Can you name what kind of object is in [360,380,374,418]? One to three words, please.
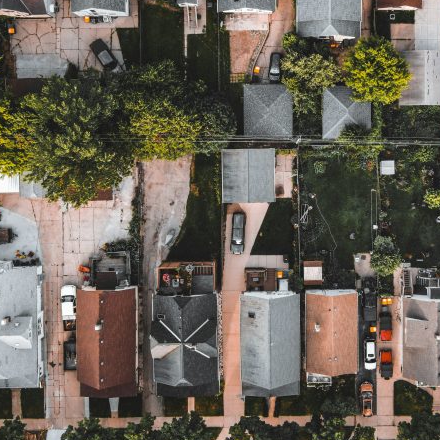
vehicle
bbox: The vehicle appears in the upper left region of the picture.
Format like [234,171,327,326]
[90,38,117,71]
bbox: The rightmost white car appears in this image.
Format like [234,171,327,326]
[363,338,378,371]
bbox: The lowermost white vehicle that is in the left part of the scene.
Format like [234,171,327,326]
[58,284,76,330]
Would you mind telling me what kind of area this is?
residential area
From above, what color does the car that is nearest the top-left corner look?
black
